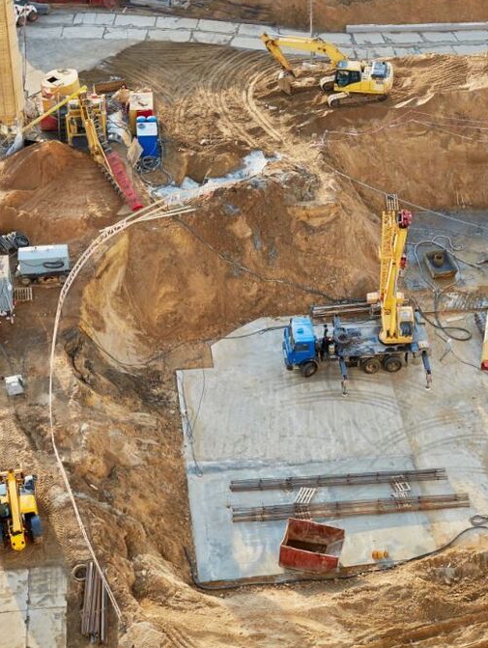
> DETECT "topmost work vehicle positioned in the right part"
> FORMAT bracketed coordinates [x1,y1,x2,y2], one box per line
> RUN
[256,29,395,106]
